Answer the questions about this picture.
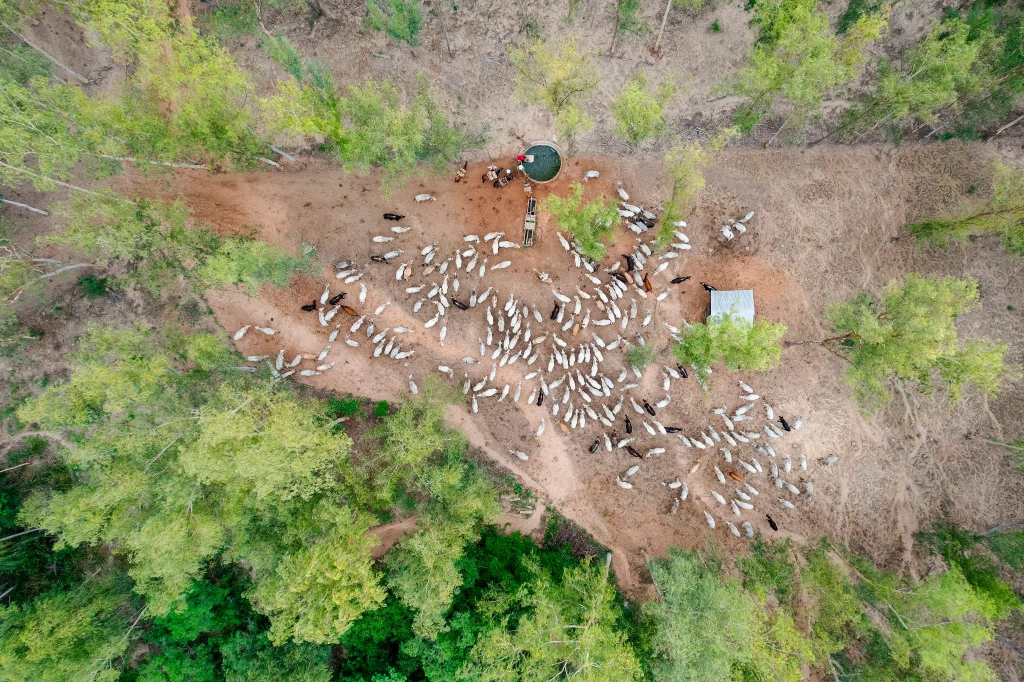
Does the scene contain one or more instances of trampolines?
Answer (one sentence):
No, no trampoline is visible in the scene.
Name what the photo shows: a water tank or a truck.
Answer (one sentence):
It is a water tank that can be seen here.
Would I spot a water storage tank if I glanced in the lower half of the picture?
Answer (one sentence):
No, no water storage tank appears in the lower half of the picture.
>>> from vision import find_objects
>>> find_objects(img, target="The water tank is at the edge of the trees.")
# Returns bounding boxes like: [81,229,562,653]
[522,140,565,185]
